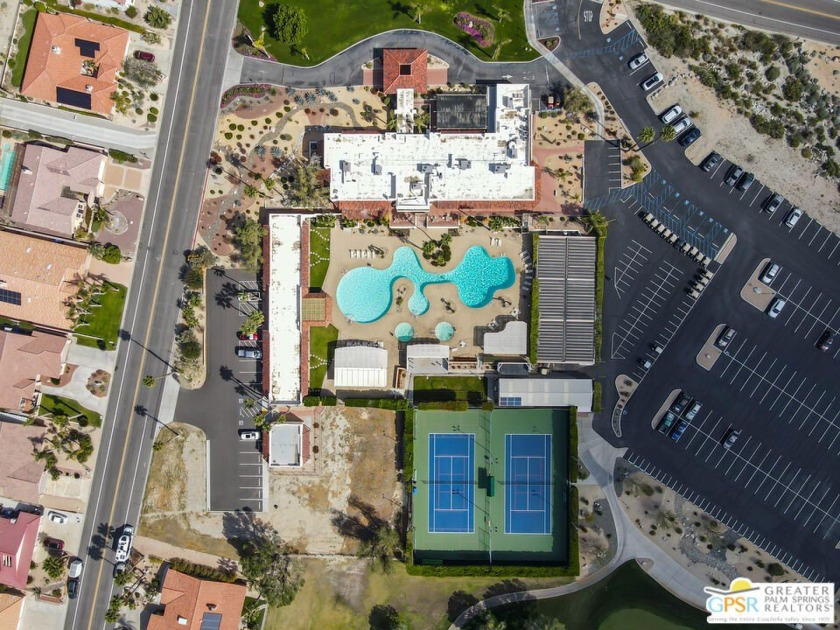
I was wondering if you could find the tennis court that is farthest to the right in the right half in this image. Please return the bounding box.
[490,408,568,562]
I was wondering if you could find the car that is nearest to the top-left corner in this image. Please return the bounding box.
[135,49,156,62]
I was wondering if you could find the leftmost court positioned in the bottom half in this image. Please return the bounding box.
[413,408,490,562]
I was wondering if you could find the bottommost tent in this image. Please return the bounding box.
[332,350,387,386]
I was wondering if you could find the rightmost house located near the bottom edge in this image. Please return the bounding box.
[146,567,249,630]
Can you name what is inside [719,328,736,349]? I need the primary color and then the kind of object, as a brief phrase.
gray car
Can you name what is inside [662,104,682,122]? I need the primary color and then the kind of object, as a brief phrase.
white car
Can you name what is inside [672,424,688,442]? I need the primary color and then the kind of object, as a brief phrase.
blue car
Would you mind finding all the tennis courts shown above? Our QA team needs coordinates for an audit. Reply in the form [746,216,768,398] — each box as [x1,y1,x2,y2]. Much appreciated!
[490,408,568,562]
[413,408,490,562]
